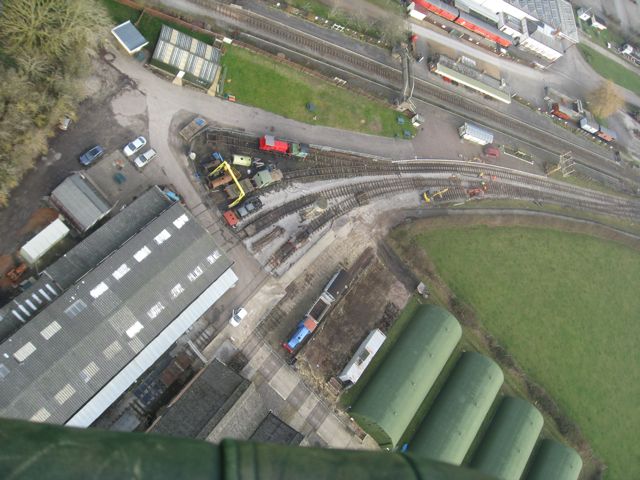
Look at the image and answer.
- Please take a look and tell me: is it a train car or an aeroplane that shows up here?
train car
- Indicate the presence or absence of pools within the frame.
No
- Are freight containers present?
Yes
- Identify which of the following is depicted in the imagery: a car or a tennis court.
car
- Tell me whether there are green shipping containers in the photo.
No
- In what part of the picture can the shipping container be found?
left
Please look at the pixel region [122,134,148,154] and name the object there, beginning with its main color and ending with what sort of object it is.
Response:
white car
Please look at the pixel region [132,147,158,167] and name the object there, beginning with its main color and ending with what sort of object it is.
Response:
white car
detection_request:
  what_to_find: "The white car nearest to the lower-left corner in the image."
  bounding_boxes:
[228,306,249,328]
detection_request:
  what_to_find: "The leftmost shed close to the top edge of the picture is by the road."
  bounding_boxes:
[110,22,149,59]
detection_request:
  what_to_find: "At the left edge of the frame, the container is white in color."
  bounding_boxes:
[21,219,71,263]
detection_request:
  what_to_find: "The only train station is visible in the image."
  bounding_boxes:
[216,0,622,178]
